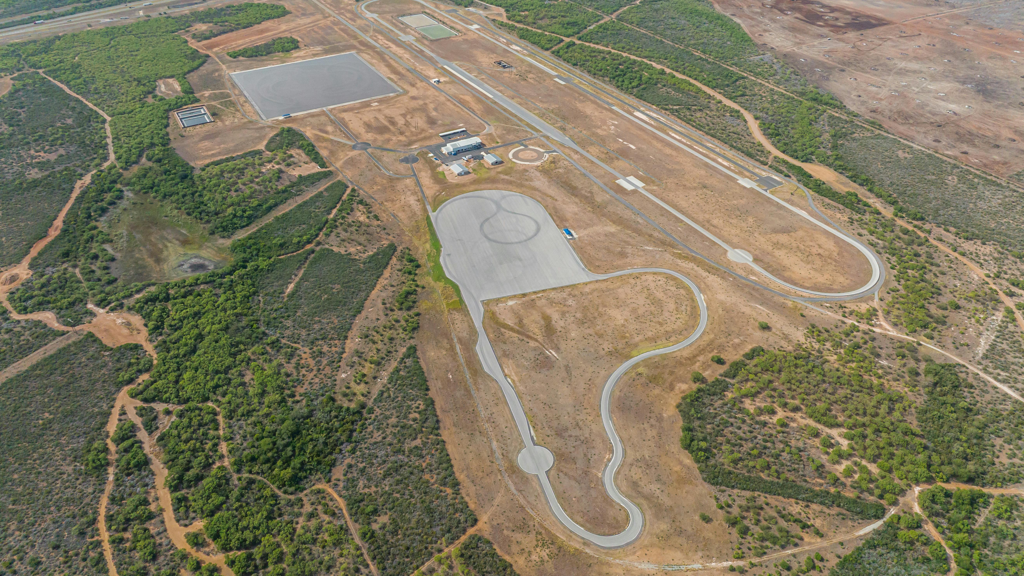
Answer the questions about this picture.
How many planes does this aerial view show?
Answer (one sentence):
The photo contains no planes.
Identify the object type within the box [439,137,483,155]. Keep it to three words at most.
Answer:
building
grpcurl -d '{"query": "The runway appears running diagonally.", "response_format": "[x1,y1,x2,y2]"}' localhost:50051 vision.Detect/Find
[433,55,638,190]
